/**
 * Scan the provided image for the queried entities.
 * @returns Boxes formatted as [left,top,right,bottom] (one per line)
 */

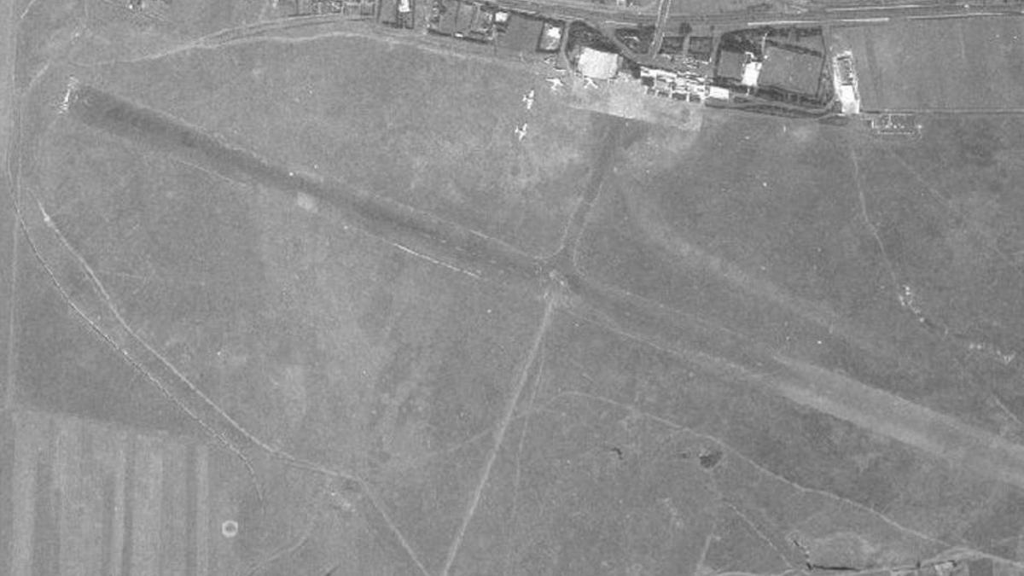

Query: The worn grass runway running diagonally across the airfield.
[66,72,1024,495]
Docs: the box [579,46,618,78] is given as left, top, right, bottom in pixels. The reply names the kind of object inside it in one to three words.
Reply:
hangar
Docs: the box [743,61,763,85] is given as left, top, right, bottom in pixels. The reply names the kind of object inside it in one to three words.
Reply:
house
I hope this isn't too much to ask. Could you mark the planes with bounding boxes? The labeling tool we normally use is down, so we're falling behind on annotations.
[585,78,596,89]
[521,90,533,108]
[515,123,526,140]
[547,78,564,90]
